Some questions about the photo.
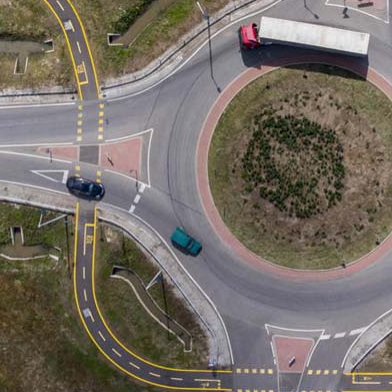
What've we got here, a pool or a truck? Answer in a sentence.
It is a truck that can be seen here.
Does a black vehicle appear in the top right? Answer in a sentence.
No, I can find no black vehicle in the top right.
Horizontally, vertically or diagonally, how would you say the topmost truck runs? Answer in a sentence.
Seen from above, the topmost truck lies horizontally.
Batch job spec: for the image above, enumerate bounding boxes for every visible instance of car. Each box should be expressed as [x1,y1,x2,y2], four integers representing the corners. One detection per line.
[171,227,201,253]
[68,178,105,199]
